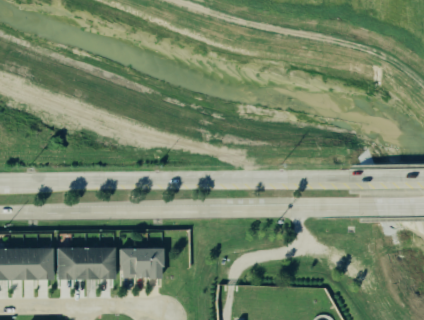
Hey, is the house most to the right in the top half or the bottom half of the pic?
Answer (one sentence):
Seen from above, the house most to the right lies in the bottom half of the view.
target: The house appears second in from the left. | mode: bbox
[56,248,114,281]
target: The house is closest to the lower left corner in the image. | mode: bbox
[0,248,52,281]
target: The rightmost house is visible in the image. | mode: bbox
[119,248,164,288]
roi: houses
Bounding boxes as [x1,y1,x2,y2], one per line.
[56,248,114,281]
[0,248,52,281]
[119,248,164,288]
